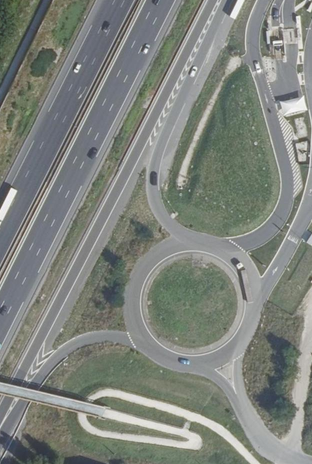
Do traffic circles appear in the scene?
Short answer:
Yes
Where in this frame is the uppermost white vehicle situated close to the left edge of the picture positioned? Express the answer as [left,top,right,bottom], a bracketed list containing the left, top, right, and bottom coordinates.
[0,189,16,225]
